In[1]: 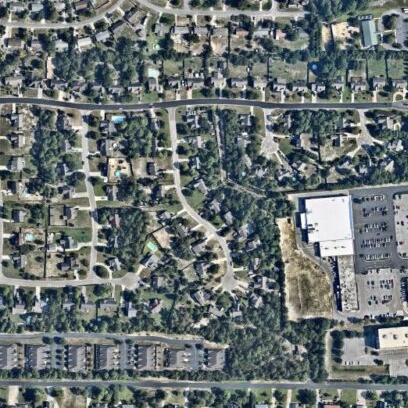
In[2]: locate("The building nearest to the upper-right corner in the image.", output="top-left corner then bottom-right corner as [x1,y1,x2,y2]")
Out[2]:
[363,19,378,46]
